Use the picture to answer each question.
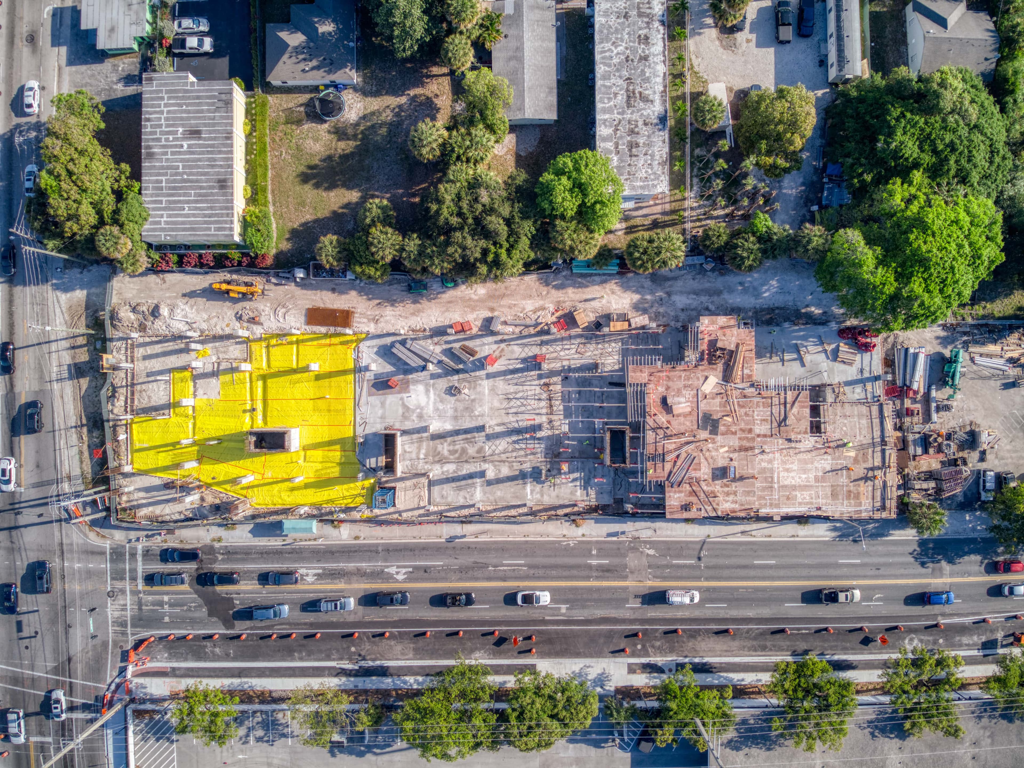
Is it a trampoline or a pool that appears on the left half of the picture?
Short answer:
trampoline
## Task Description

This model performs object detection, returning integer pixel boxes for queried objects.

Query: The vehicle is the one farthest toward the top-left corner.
[22,81,41,115]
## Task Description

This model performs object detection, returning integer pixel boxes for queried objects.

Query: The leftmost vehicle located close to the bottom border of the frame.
[6,708,27,744]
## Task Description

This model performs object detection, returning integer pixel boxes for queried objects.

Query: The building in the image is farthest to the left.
[81,0,159,60]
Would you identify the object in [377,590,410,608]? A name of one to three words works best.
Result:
car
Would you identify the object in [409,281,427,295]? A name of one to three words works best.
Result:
work vehicle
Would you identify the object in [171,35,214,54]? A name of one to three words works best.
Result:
vehicle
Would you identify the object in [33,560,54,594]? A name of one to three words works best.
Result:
car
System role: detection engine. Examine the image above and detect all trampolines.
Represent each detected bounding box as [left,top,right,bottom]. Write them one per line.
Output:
[311,84,346,122]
